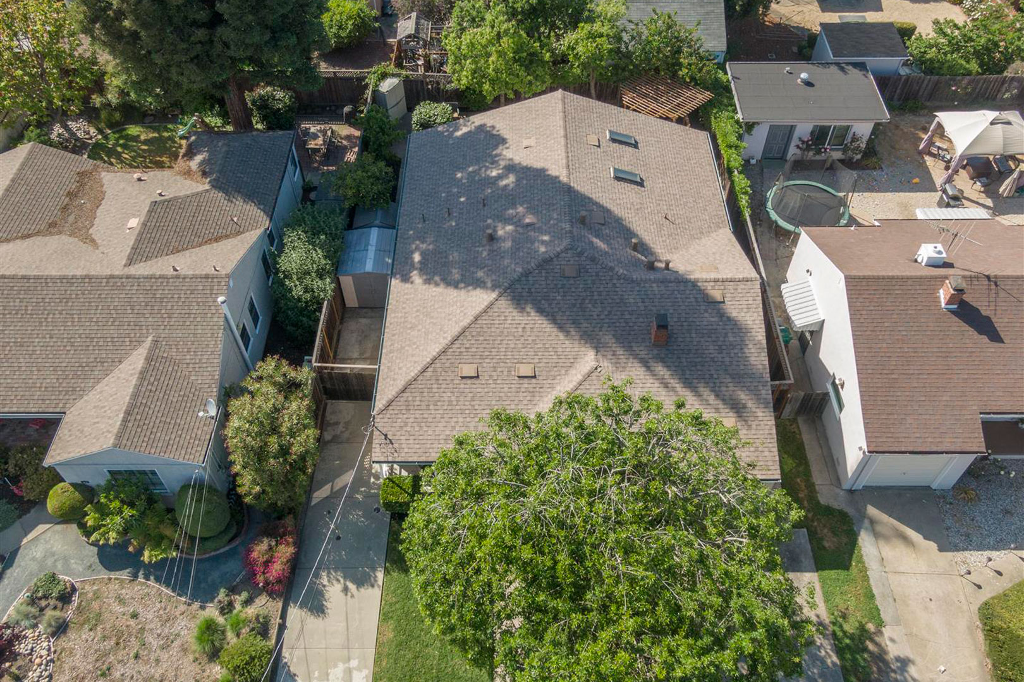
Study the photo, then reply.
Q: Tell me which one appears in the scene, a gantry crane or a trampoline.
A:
trampoline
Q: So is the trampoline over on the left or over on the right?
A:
right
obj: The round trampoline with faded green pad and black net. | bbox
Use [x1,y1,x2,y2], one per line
[764,153,857,232]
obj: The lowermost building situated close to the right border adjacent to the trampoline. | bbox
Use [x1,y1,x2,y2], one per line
[784,218,1024,494]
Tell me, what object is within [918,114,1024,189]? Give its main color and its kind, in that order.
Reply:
white gazebo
